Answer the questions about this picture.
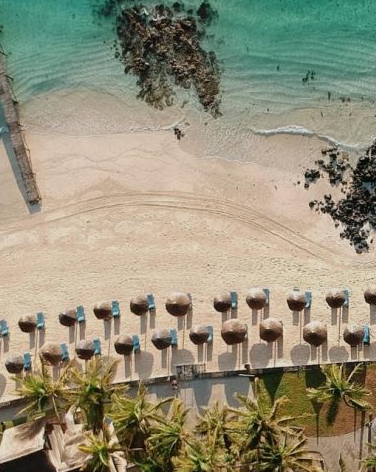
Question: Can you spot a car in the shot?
No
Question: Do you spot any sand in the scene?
Yes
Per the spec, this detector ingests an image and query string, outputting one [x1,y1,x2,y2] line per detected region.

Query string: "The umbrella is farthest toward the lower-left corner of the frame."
[7,355,27,374]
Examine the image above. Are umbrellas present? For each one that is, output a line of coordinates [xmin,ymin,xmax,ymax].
[222,319,247,344]
[190,325,210,344]
[261,318,283,341]
[20,313,38,331]
[214,294,231,312]
[42,342,63,363]
[288,291,307,309]
[247,289,267,308]
[116,335,135,354]
[60,308,77,326]
[77,340,96,360]
[131,296,149,315]
[344,326,364,345]
[304,322,327,344]
[153,330,172,349]
[167,292,190,315]
[327,288,346,307]
[364,285,376,306]
[96,302,113,319]
[7,355,27,374]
